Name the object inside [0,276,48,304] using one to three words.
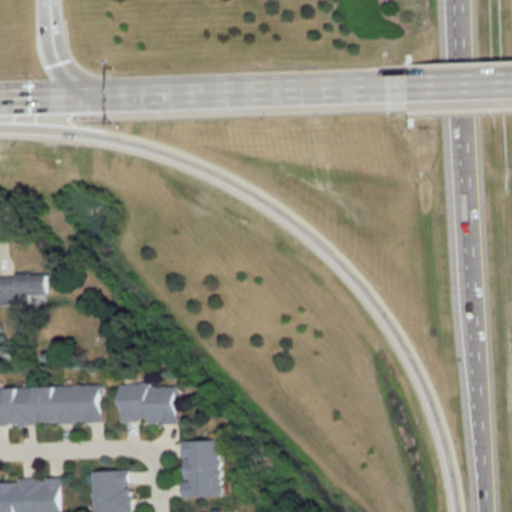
house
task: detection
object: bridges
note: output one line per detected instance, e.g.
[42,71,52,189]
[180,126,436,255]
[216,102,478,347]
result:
[385,60,512,116]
